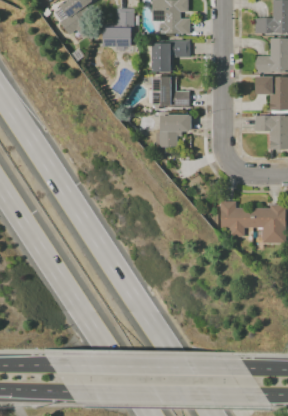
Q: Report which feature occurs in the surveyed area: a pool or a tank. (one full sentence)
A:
The image shows a pool.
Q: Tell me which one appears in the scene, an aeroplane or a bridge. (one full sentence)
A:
I can see a bridge in this picture.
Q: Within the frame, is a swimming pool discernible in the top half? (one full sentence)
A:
Yes, a swimming pool is visible in the top half.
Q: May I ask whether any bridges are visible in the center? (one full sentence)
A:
No, the scene shows no bridge in the center.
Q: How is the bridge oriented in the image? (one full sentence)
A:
The bridge is oriented horizontally.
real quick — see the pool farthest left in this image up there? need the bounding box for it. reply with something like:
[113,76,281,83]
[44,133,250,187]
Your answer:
[108,57,136,99]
